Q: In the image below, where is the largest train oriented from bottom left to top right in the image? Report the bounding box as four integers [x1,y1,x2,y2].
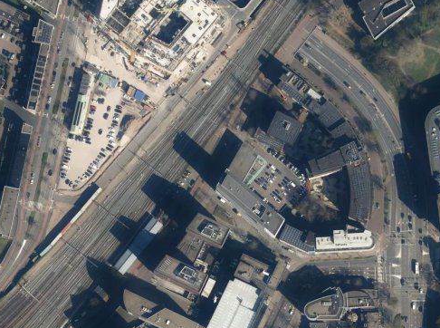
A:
[29,188,102,264]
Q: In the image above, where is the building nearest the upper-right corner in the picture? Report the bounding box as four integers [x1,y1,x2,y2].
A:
[359,0,415,41]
